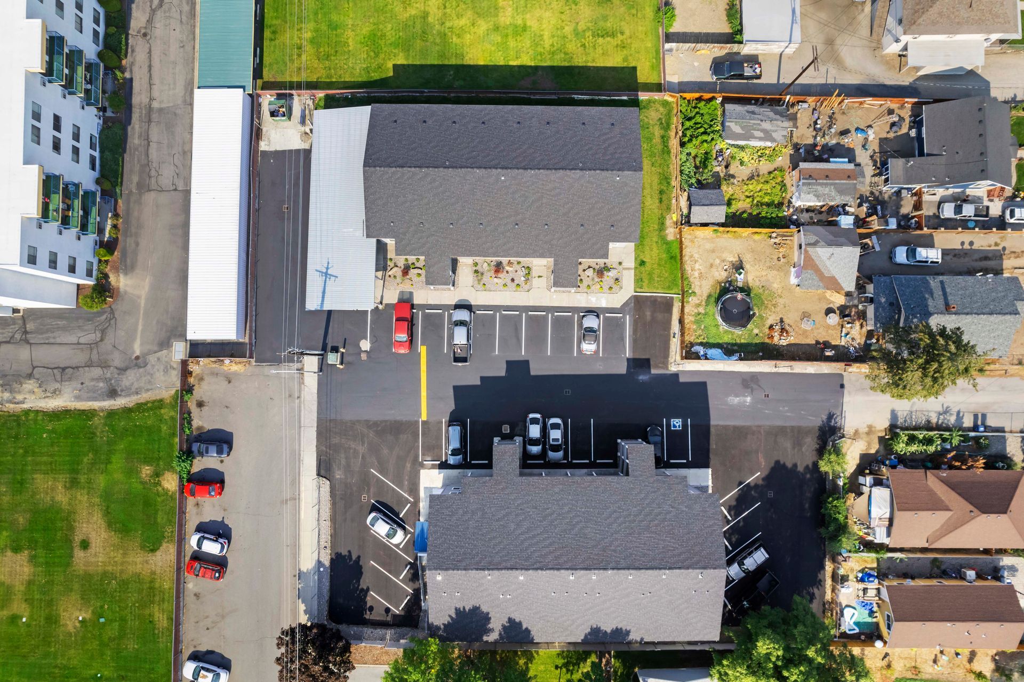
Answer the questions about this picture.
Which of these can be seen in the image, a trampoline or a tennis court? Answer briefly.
trampoline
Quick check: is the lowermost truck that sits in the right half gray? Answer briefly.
No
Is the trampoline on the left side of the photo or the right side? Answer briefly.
right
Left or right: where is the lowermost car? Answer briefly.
left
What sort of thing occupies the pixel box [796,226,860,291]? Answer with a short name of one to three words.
building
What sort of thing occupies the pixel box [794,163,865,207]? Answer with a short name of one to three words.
shed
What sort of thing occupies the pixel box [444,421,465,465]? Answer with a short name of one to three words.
car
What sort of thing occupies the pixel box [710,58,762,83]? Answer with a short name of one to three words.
truck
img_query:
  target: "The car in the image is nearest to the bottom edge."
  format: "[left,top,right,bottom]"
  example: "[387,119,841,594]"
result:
[184,658,232,682]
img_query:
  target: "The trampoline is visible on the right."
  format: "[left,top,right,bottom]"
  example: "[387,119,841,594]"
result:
[715,289,760,330]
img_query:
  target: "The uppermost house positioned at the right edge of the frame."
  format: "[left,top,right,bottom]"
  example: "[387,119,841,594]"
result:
[884,0,1019,76]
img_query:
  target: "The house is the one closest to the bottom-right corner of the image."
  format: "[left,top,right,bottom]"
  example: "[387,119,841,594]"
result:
[875,577,1024,650]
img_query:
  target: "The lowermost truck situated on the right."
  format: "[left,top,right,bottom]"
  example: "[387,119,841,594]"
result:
[728,568,780,612]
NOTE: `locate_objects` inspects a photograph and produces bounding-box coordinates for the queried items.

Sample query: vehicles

[450,309,472,367]
[728,568,780,612]
[184,658,232,682]
[579,314,600,355]
[190,531,231,556]
[391,301,413,353]
[890,244,943,266]
[936,199,991,222]
[645,424,665,468]
[710,58,762,83]
[545,417,566,463]
[184,480,226,501]
[444,421,465,465]
[524,412,545,455]
[192,439,233,460]
[186,557,228,582]
[726,540,772,580]
[366,510,406,544]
